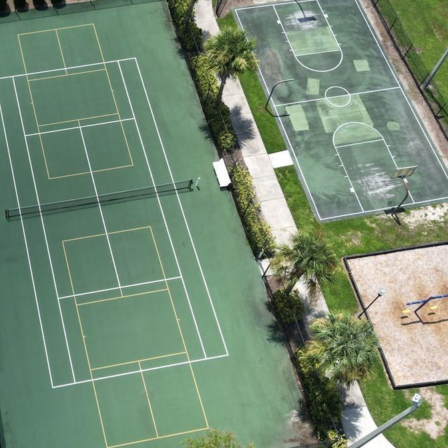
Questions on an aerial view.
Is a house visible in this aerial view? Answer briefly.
No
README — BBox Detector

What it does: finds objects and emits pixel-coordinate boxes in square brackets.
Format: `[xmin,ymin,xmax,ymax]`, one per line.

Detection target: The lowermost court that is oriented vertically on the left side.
[63,226,208,448]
